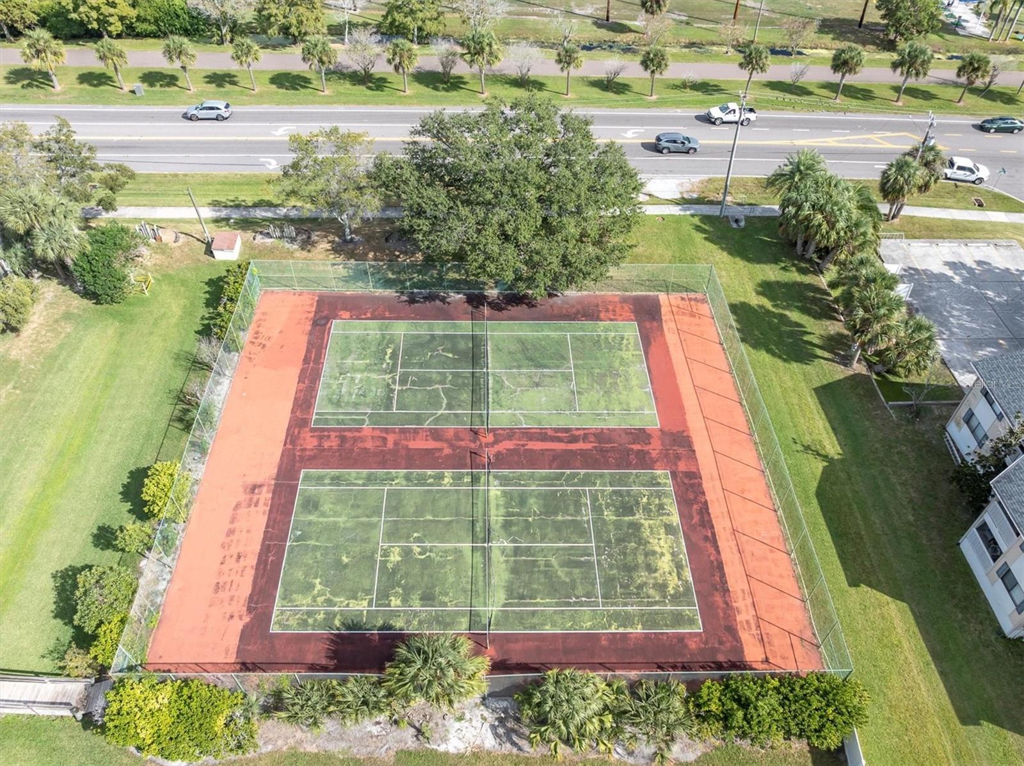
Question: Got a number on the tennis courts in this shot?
2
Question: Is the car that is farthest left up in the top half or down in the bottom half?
top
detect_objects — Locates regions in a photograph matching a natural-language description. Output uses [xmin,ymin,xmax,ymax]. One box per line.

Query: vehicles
[929,153,988,183]
[979,115,1024,134]
[183,97,233,120]
[655,131,703,154]
[704,102,758,126]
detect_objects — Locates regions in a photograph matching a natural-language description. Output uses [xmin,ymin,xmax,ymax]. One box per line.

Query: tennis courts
[311,319,659,428]
[269,470,702,633]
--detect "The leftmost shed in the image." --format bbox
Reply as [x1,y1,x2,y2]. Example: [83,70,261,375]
[211,230,241,259]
